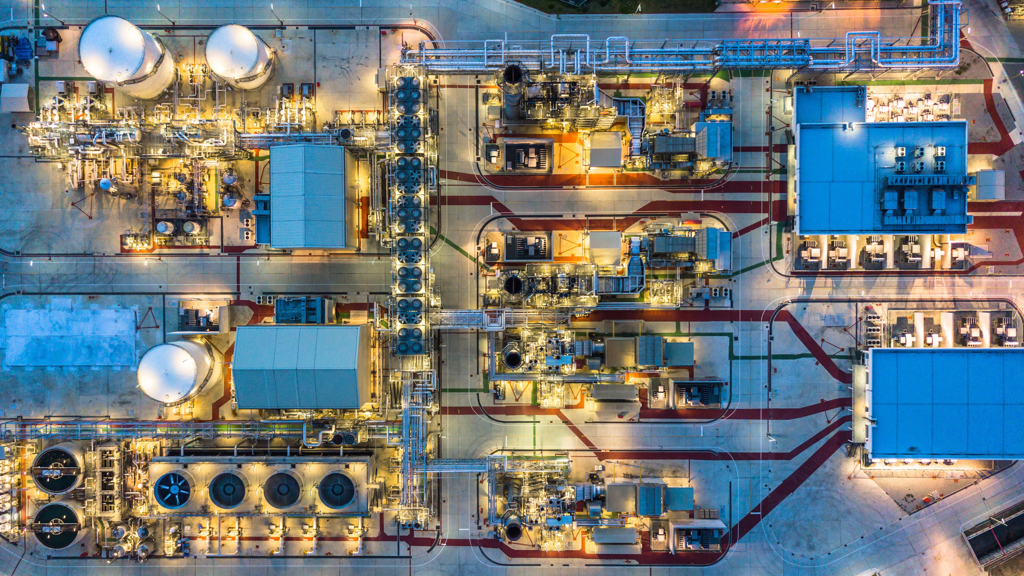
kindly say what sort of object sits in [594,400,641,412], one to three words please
building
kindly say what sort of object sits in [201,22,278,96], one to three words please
storage tank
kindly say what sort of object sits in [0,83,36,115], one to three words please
shed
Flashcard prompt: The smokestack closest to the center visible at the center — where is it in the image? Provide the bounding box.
[498,270,528,300]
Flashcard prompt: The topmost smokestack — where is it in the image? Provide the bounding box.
[498,64,528,119]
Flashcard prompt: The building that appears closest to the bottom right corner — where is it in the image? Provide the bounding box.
[846,346,1024,459]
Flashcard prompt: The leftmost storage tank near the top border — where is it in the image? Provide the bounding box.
[74,12,177,102]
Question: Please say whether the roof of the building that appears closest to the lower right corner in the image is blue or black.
blue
